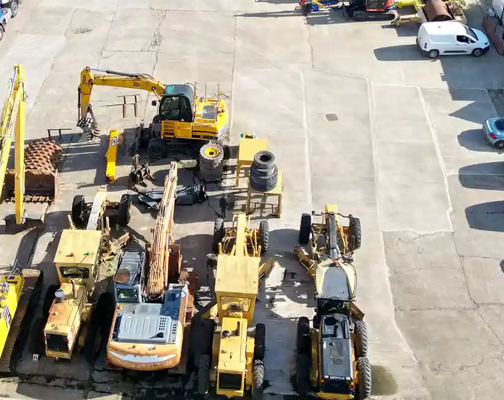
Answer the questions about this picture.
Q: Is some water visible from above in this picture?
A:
No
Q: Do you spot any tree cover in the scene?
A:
No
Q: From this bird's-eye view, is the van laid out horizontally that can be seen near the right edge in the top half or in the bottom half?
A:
top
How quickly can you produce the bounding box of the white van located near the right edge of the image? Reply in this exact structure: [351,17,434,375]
[416,20,494,57]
